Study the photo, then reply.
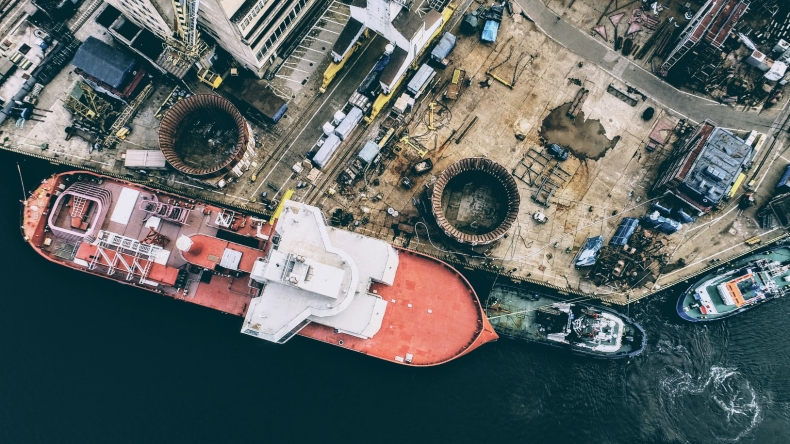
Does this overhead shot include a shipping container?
Yes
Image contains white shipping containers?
Yes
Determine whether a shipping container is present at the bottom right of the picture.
No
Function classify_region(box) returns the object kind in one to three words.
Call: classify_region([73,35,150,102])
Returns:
building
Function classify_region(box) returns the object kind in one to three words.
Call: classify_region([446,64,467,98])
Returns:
vehicle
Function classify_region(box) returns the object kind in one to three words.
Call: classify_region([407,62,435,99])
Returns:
shipping container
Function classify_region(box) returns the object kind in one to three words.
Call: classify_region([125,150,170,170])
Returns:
building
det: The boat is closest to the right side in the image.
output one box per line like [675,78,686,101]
[673,238,790,323]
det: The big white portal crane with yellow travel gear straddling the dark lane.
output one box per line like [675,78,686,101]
[319,0,461,127]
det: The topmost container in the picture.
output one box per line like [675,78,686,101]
[430,32,457,66]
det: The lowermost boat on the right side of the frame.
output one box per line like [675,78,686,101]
[479,281,647,361]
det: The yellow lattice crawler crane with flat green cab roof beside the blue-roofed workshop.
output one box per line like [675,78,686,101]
[62,78,158,137]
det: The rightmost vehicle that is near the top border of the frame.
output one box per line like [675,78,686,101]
[481,0,506,41]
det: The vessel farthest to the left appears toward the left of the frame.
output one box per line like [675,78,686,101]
[16,163,497,367]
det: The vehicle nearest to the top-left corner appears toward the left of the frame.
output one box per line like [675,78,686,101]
[64,119,100,146]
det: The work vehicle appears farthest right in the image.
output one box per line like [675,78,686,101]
[741,190,760,216]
